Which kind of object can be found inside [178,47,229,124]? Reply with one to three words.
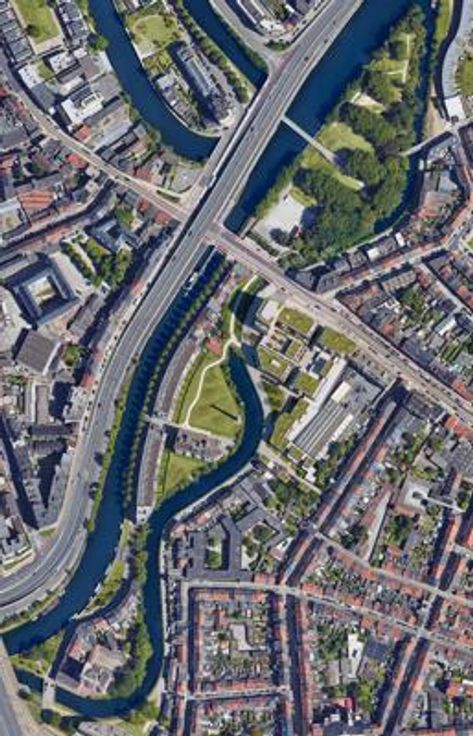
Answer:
building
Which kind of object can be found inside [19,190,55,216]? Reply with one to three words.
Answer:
building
